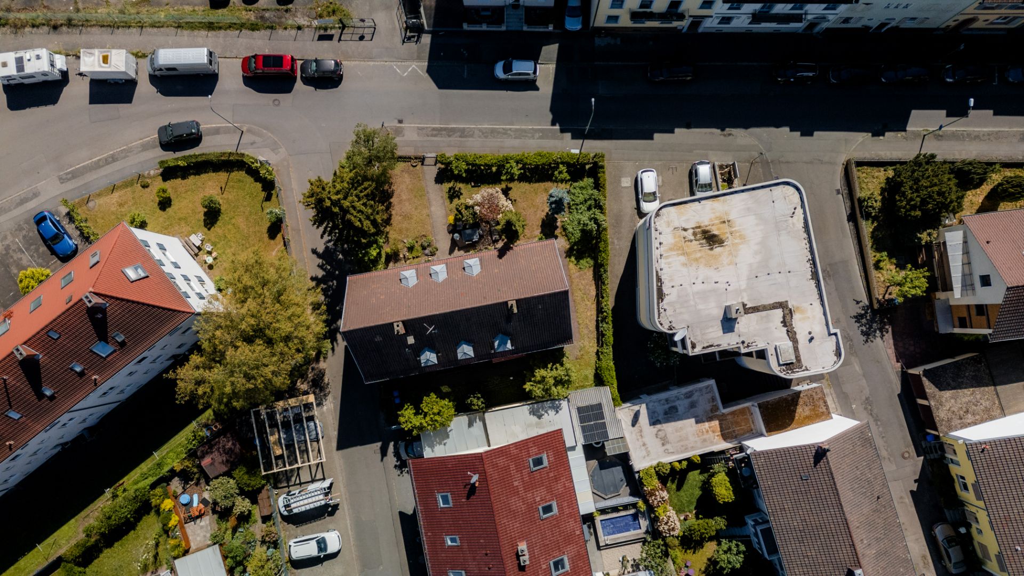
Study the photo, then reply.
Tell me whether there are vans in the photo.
Yes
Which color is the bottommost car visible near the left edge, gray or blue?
blue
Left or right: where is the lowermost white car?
left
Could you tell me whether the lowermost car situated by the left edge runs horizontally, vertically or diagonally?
diagonally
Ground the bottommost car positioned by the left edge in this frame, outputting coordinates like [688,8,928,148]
[29,212,74,259]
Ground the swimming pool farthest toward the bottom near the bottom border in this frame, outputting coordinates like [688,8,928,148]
[593,506,647,551]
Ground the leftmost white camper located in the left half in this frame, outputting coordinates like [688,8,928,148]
[0,49,71,87]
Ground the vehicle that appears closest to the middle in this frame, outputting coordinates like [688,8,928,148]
[638,169,663,214]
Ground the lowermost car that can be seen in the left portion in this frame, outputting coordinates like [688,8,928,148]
[286,532,340,561]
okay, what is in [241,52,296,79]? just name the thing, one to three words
vehicle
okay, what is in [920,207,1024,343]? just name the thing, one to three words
house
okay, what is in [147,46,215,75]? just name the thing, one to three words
van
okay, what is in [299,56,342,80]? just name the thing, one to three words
car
